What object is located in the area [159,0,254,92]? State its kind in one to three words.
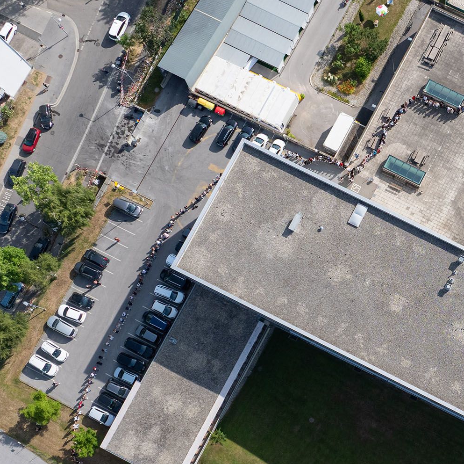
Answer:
building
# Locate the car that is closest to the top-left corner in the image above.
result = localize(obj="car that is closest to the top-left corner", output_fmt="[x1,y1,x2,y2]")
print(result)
[0,21,20,44]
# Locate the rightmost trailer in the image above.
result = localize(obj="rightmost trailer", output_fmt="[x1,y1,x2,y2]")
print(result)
[323,113,355,158]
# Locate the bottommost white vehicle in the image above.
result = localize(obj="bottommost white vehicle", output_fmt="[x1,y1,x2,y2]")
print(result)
[85,404,113,428]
